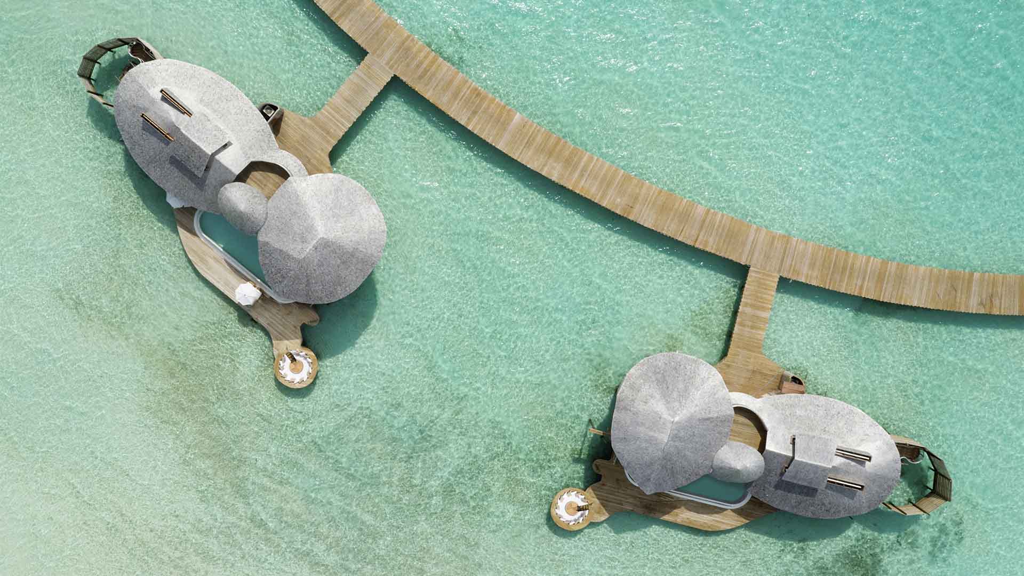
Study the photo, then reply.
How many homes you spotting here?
2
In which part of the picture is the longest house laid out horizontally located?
bottom right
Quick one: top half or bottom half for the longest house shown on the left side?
top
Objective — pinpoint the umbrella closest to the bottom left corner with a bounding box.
[236,282,261,307]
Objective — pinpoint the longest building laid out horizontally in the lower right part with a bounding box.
[610,351,901,519]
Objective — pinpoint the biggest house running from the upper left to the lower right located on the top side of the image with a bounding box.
[113,58,386,304]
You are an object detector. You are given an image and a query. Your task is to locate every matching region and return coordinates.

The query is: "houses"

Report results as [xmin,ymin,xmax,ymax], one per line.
[113,58,386,304]
[610,351,901,519]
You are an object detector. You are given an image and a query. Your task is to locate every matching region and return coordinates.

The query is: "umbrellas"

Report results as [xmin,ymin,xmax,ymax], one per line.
[236,282,261,307]
[167,193,186,207]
